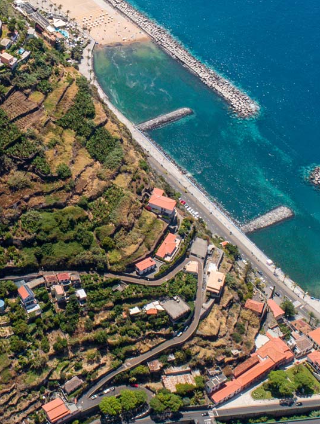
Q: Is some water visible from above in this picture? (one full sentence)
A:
Yes, the picture does contain water.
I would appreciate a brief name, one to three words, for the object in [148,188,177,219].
house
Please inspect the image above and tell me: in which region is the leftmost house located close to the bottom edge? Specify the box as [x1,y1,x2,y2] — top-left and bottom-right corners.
[42,400,71,424]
